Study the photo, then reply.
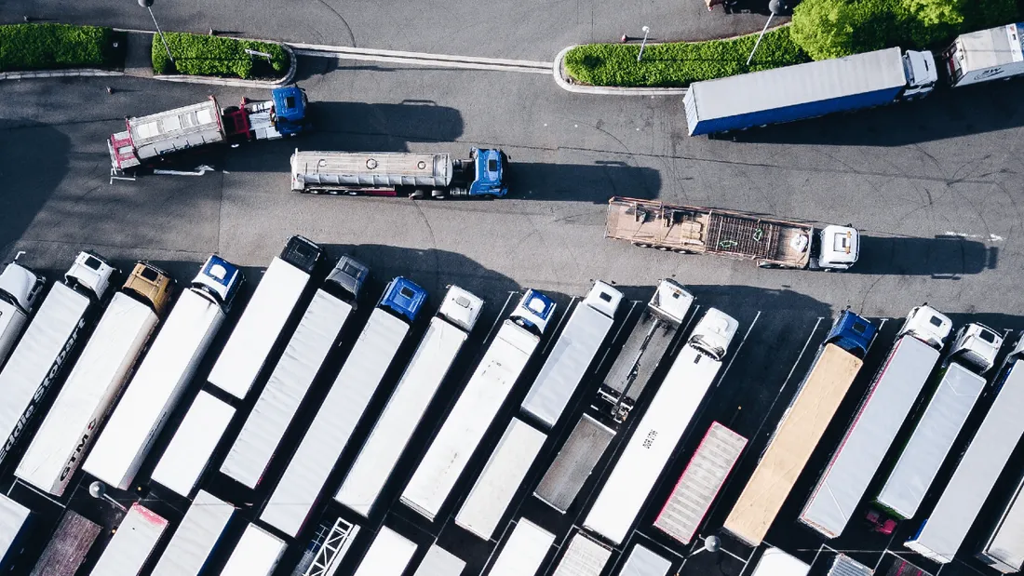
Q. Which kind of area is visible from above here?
parking lot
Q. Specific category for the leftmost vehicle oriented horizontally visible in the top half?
truck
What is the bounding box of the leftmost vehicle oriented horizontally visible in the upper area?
[103,83,316,189]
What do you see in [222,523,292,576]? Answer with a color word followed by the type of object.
white trailer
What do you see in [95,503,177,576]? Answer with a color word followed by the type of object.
white trailer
